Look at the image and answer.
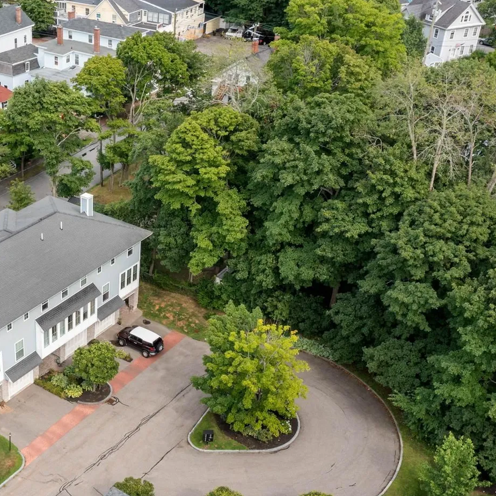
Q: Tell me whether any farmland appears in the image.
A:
No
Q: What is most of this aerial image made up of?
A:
trees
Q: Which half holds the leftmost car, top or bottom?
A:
bottom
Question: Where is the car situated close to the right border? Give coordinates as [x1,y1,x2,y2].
[476,38,496,50]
